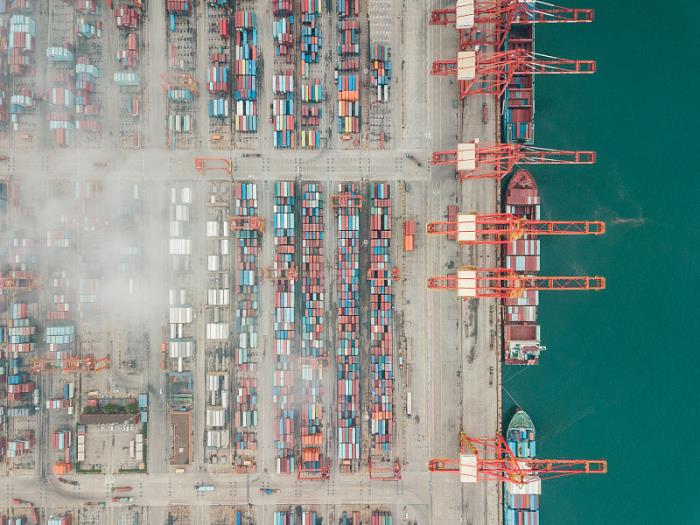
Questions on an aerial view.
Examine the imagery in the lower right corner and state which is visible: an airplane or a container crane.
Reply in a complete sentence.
What appears in the lower right corner is a container crane.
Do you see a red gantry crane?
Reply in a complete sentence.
Yes, there's a red gantry crane down there.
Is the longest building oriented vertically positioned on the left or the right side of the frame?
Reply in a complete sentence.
The longest building oriented vertically sits on the left side.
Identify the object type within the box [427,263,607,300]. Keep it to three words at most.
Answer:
container crane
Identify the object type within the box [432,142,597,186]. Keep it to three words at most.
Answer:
container crane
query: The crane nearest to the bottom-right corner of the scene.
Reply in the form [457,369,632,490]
[429,428,608,486]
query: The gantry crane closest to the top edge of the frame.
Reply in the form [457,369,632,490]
[432,0,594,58]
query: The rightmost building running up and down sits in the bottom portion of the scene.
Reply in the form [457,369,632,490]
[170,410,193,465]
